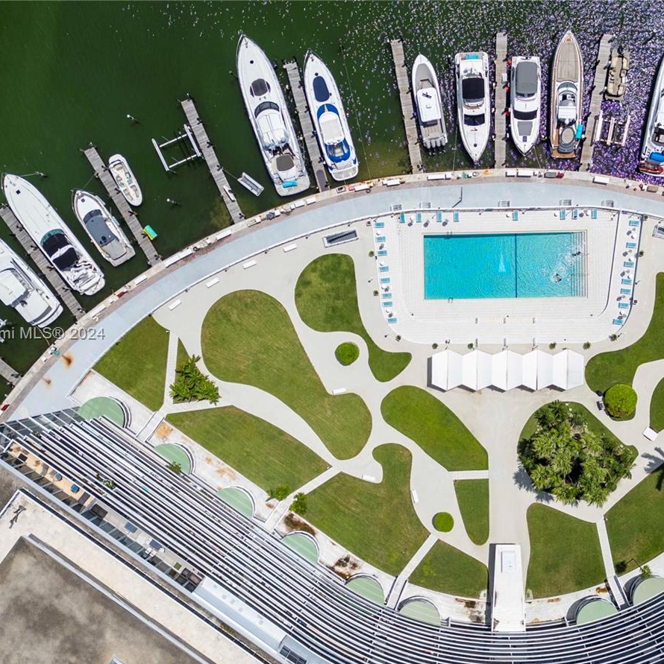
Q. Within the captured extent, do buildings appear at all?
Yes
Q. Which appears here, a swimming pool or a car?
swimming pool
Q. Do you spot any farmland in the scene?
No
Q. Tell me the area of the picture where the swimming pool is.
right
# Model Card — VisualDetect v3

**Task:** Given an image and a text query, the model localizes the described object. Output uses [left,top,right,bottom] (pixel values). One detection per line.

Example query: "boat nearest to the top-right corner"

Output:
[605,47,630,103]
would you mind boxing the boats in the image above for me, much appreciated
[642,64,664,183]
[235,33,308,202]
[551,29,584,161]
[0,242,64,329]
[73,190,137,269]
[455,54,490,161]
[238,170,264,196]
[111,153,146,211]
[508,57,541,155]
[0,174,111,301]
[605,47,630,103]
[303,49,360,186]
[412,54,445,151]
